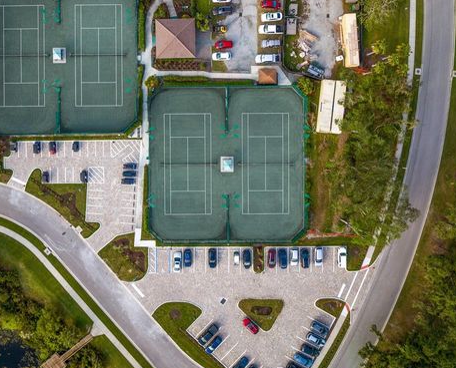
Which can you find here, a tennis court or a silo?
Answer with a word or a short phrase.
tennis court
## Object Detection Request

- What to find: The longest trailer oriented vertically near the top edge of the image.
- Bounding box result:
[340,12,360,68]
